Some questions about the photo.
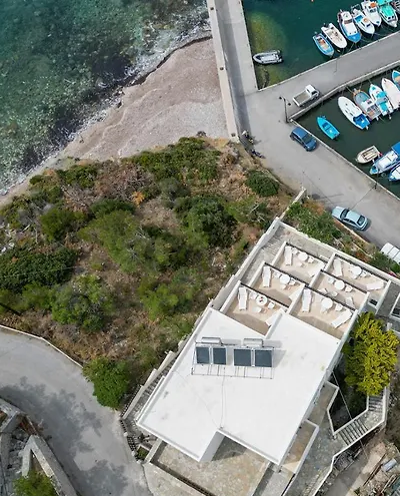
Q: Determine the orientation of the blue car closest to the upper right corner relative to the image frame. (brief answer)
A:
at an angle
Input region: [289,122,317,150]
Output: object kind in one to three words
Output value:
car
